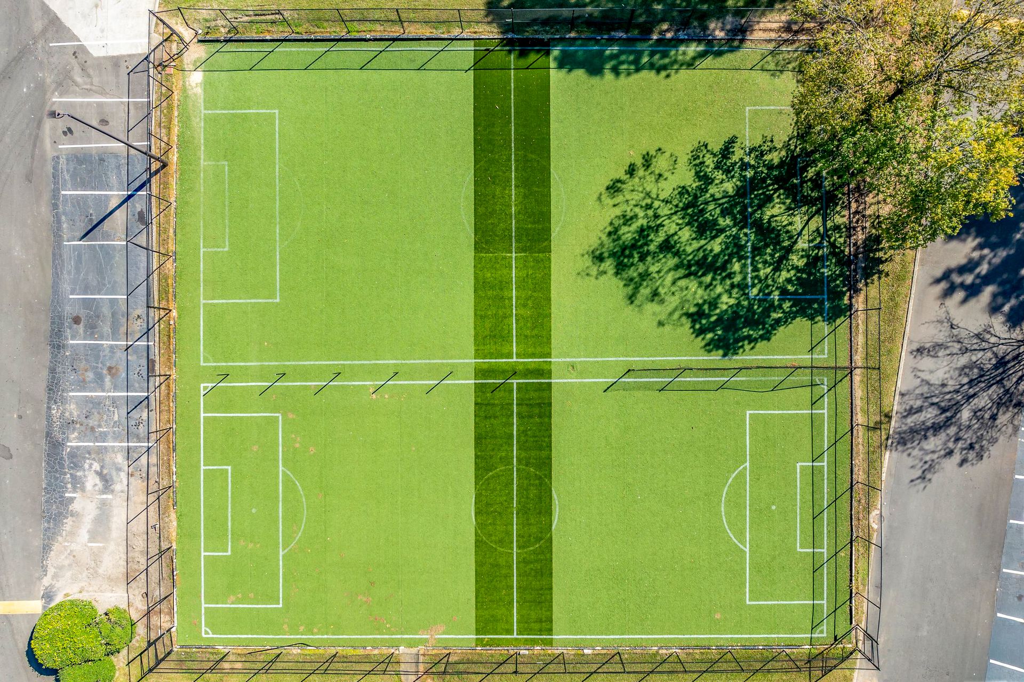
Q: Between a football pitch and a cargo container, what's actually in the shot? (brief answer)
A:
football pitch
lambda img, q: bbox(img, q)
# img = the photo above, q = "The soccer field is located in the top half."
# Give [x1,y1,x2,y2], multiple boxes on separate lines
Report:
[177,38,851,372]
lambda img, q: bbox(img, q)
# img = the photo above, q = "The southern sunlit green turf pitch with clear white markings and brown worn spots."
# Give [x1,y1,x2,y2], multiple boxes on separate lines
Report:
[176,372,850,653]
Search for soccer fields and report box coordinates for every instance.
[177,38,851,372]
[176,372,850,653]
